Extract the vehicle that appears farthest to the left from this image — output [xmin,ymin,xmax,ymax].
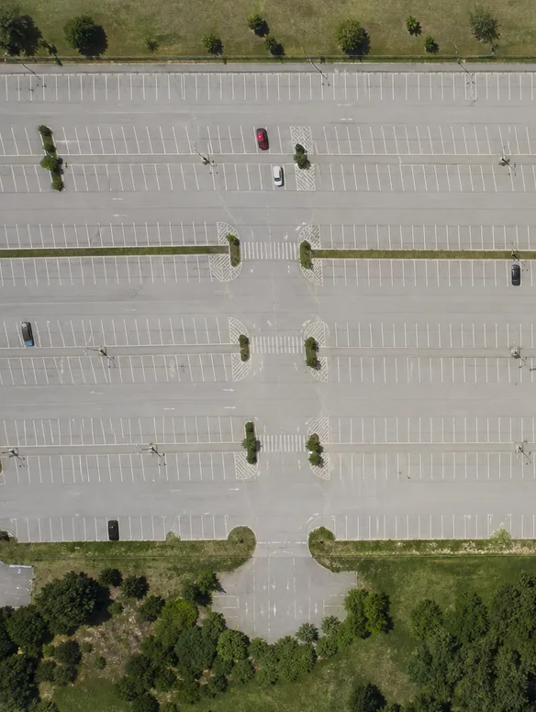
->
[18,322,33,346]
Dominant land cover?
paved ground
